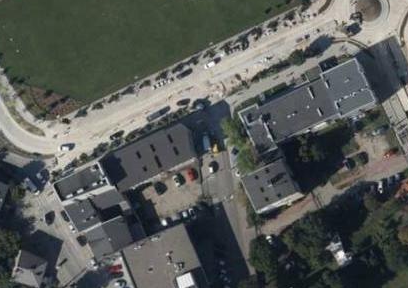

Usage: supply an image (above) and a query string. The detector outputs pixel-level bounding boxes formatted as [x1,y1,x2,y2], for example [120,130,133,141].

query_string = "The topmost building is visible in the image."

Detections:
[235,59,376,156]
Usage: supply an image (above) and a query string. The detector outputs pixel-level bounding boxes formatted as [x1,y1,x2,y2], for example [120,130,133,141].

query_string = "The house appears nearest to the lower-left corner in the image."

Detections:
[10,247,48,288]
